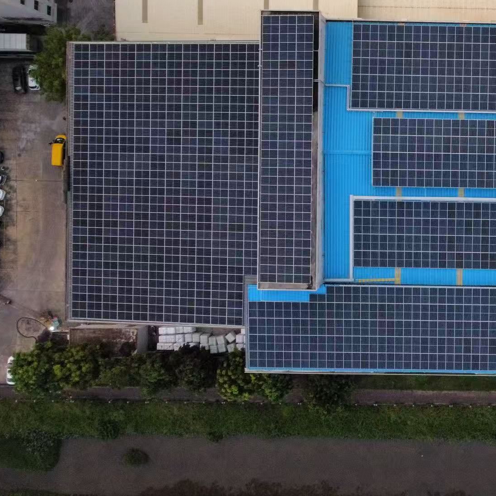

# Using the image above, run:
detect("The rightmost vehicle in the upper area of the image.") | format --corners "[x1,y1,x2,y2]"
[47,136,66,169]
